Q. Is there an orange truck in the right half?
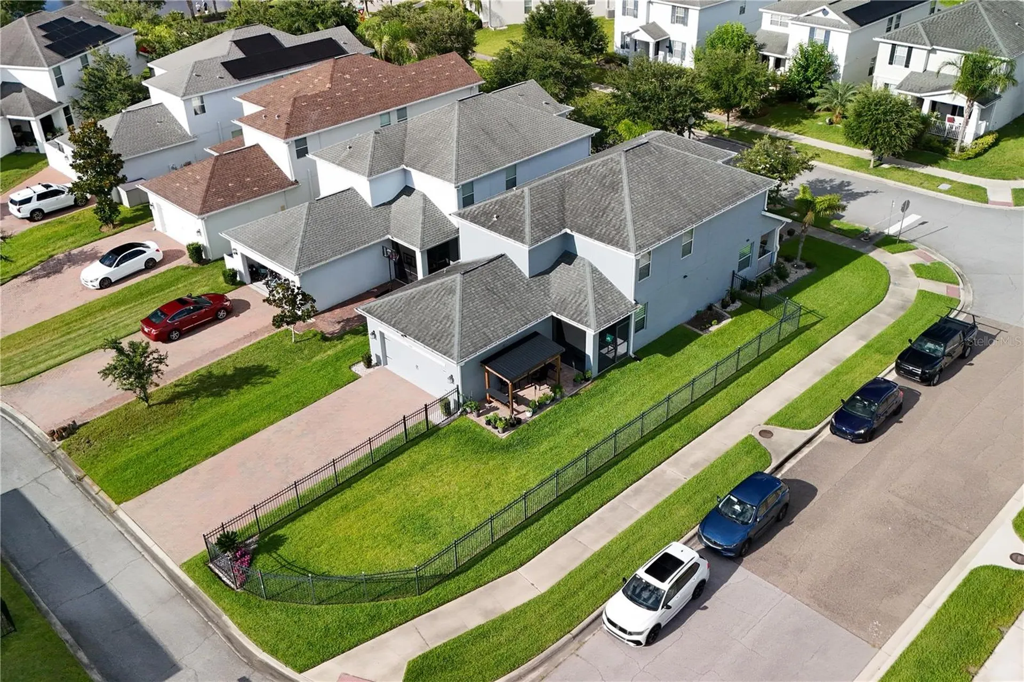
No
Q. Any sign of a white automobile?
Yes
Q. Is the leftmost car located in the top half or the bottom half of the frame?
top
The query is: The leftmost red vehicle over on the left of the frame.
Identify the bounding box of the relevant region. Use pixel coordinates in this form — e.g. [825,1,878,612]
[138,290,235,339]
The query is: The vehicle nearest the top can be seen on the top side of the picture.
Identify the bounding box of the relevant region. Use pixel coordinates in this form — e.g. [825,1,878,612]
[10,179,83,218]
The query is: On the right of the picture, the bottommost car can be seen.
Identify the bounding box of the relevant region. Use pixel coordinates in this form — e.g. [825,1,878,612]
[599,544,714,646]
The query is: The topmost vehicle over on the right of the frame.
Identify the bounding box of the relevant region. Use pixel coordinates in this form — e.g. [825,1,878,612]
[895,305,989,388]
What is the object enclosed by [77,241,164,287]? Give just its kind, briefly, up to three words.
car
